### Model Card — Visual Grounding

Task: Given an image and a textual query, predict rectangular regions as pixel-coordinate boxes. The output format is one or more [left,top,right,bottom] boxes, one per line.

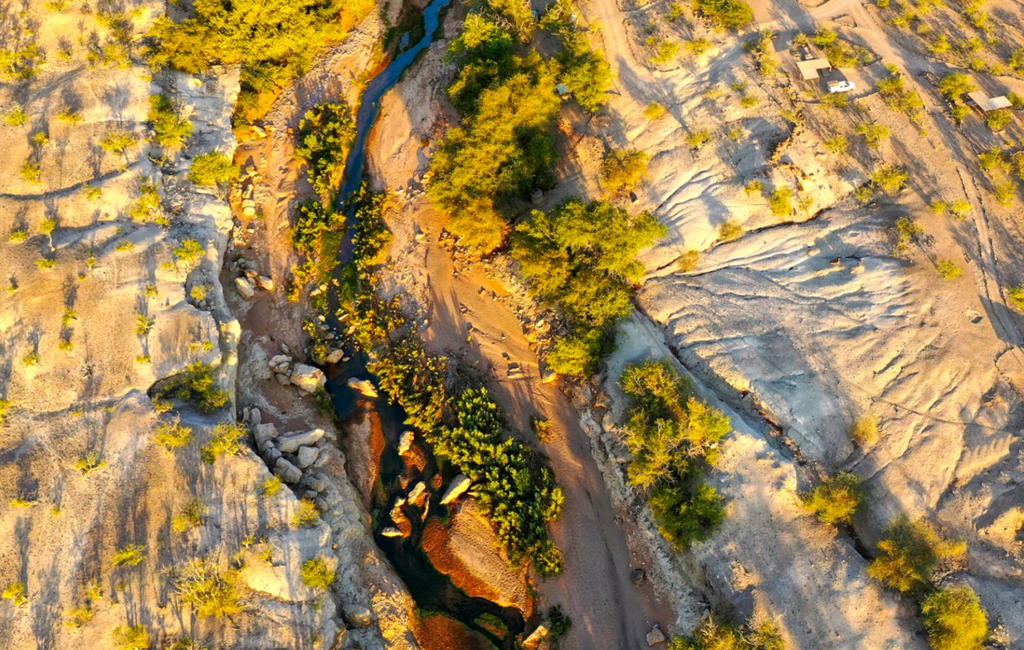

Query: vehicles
[826,77,860,93]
